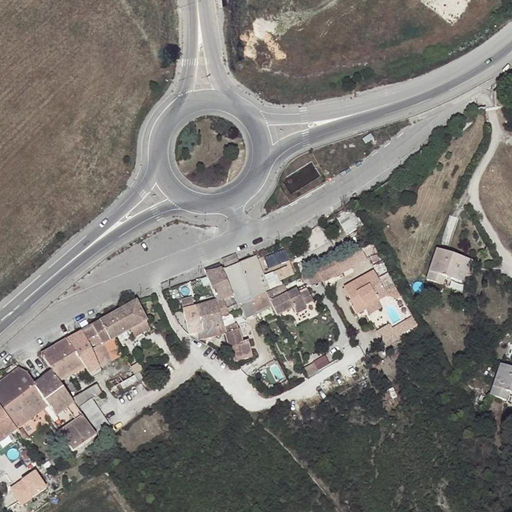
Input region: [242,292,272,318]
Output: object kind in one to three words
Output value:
shed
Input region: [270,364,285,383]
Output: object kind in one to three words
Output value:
swimming pool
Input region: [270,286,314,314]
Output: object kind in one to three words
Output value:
house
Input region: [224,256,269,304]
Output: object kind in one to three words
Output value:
building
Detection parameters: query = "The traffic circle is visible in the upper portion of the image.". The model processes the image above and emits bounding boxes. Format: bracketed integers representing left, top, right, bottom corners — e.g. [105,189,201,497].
[149,91,272,214]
